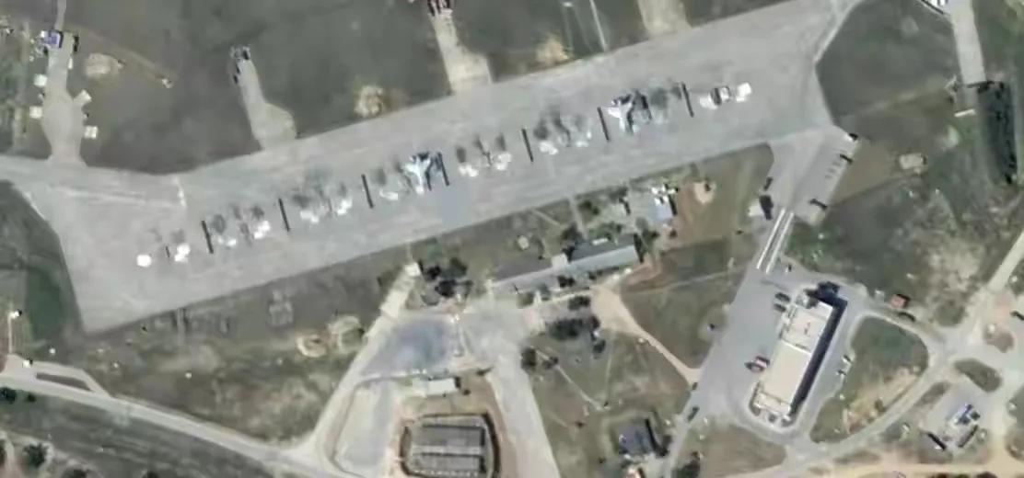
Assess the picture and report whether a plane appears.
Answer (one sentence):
Yes, the picture does show a plane.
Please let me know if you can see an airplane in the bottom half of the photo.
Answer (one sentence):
No, no airplane appears in the bottom half of the photo.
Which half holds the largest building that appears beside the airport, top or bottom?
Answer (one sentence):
The bottom half of the photo is where the largest building that appears beside the airport is.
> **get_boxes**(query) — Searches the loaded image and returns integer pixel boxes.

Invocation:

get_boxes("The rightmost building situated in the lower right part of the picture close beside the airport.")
[752,289,834,417]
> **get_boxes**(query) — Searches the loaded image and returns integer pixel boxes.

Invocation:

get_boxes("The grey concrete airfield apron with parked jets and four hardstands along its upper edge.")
[0,0,867,333]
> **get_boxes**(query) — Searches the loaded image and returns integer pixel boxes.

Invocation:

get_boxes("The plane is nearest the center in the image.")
[403,153,429,190]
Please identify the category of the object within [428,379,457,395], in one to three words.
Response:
building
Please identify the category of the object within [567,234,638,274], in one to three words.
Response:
house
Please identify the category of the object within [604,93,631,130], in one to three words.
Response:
airplane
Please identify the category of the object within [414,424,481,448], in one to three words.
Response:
shed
